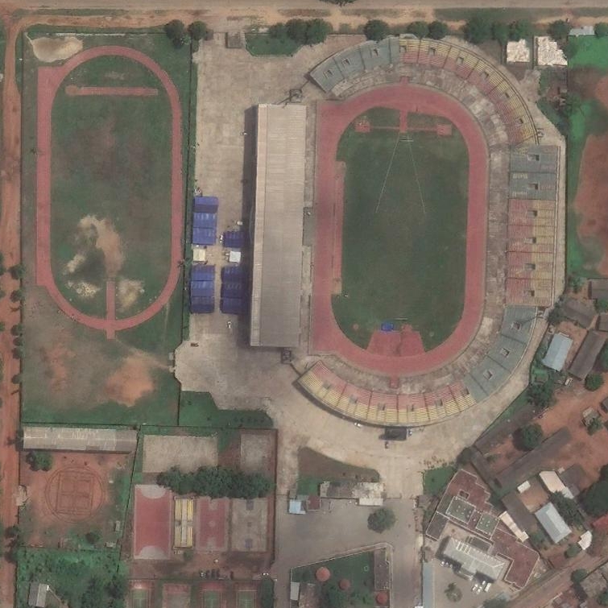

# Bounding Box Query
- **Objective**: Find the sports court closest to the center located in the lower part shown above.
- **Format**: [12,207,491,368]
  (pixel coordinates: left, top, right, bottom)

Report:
[241,434,275,473]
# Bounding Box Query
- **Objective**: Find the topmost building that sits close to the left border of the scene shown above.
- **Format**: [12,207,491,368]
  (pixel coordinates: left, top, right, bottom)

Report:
[22,427,136,453]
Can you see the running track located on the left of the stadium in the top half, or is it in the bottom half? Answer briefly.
top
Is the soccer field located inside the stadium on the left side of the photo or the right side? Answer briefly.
right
